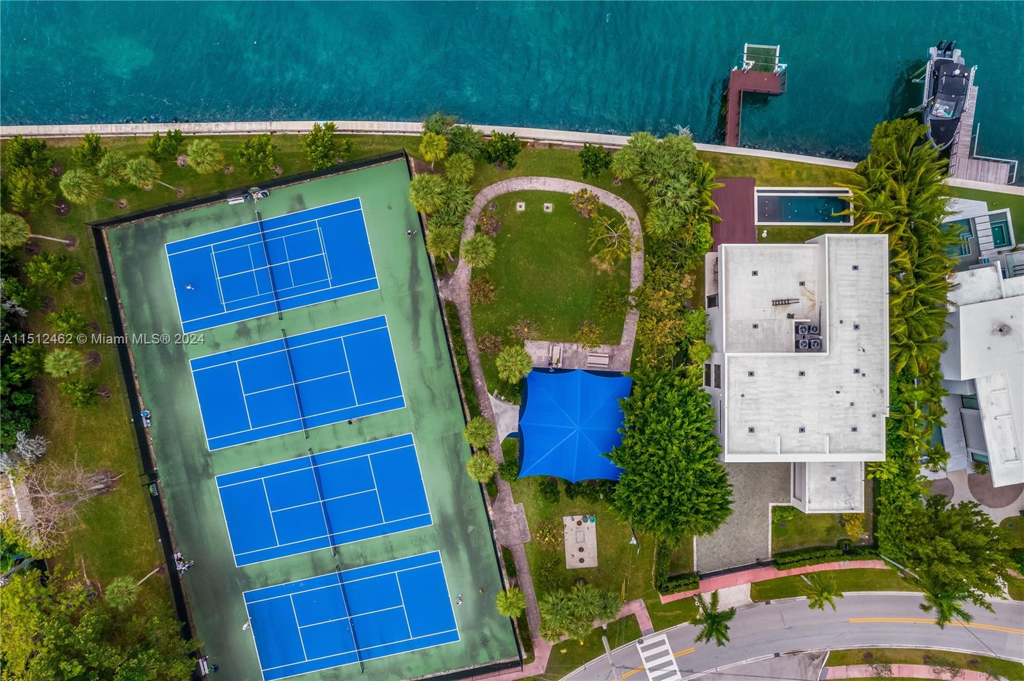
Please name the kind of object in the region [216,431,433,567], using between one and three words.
tennis court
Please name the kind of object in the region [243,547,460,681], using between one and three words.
tennis court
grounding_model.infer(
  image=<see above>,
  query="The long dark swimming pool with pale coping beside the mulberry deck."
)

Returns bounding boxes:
[754,187,853,226]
